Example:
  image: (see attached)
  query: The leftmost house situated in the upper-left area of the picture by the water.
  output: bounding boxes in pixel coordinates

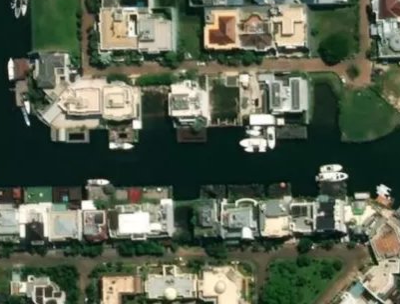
[35,53,70,104]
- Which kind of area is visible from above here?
residential area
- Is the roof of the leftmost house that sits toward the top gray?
Yes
